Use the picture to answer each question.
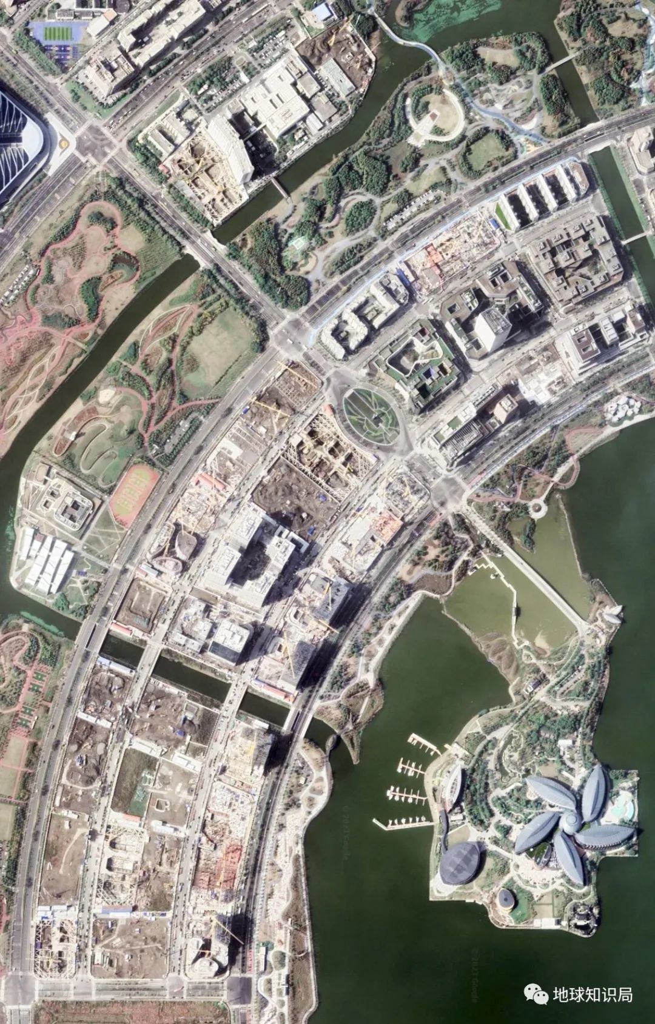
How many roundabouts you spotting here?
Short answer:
1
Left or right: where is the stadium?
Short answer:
left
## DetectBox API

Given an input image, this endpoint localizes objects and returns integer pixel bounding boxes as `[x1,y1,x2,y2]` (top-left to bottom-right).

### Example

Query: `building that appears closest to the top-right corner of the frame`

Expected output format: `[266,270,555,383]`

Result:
[628,126,654,176]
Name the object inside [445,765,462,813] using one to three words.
building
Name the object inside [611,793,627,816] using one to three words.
swimming pool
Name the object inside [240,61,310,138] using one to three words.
building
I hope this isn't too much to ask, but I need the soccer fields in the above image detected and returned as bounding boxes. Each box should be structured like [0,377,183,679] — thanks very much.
[29,22,91,44]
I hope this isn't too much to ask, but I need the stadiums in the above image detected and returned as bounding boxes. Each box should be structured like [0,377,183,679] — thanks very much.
[0,86,51,205]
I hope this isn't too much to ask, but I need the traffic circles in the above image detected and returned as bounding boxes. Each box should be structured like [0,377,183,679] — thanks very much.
[324,369,416,458]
